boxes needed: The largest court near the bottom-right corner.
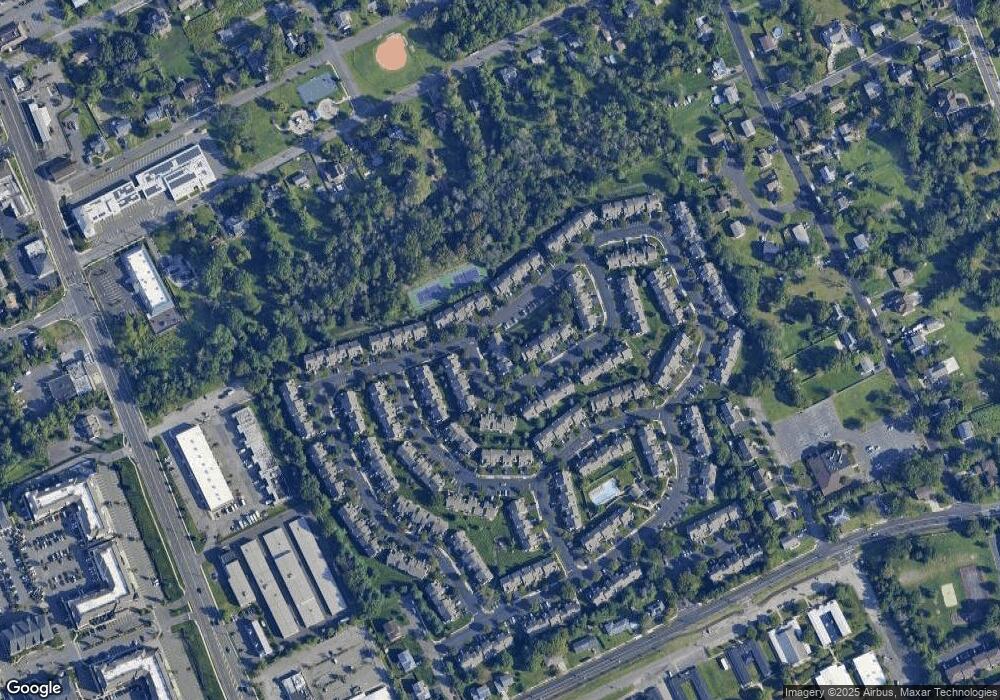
[960,565,989,599]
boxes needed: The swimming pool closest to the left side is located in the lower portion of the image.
[589,477,622,507]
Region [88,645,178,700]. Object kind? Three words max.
building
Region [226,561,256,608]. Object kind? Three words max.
shed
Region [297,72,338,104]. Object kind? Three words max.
basketball court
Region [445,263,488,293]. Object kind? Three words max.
tennis court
